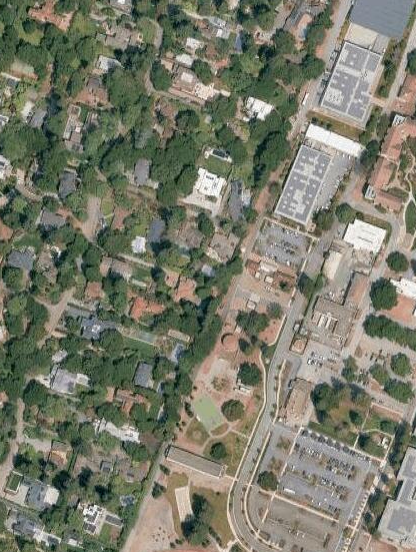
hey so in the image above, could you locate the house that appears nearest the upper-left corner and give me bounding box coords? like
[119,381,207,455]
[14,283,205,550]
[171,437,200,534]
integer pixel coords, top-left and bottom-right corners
[27,0,76,31]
